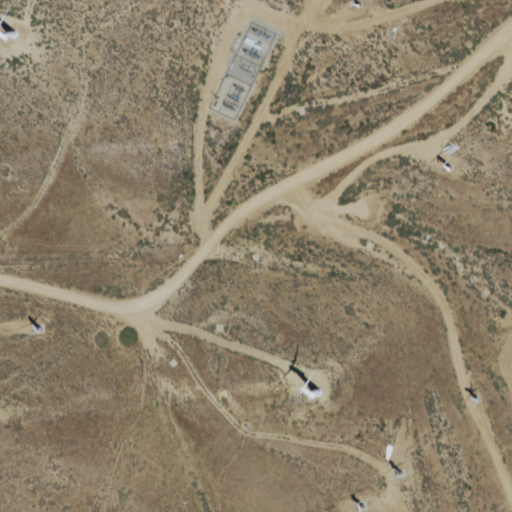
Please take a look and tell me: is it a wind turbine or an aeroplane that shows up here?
wind turbine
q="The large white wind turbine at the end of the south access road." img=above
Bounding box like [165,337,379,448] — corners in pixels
[289,374,323,410]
